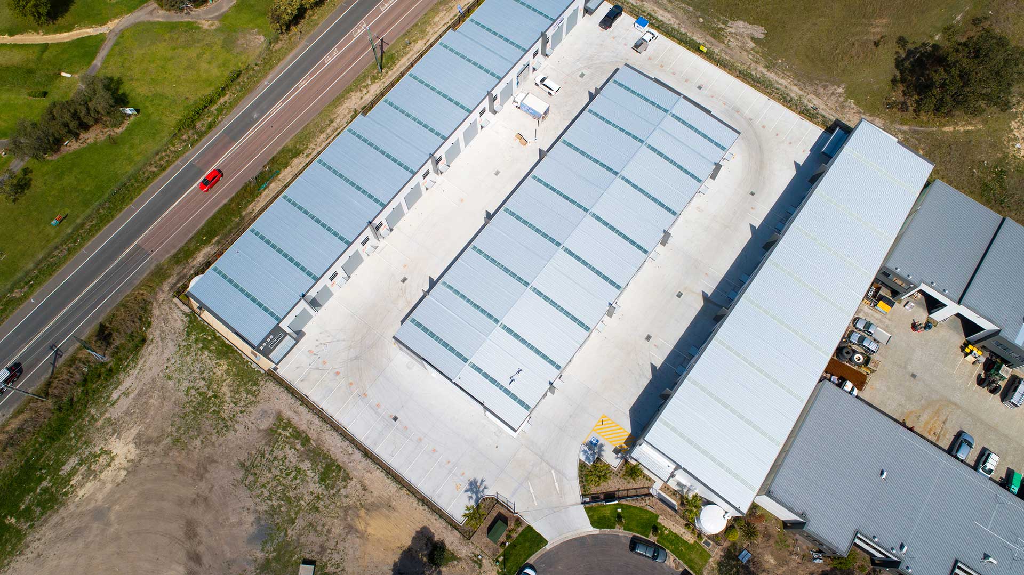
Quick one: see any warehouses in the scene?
Yes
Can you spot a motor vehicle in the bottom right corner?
Yes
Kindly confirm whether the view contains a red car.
Yes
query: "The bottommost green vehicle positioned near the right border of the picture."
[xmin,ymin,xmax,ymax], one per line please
[999,468,1024,491]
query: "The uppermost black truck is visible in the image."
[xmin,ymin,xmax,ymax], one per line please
[597,6,620,30]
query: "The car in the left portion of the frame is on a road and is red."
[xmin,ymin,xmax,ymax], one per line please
[199,169,226,191]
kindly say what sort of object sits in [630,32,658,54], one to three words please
truck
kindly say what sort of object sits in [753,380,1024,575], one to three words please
building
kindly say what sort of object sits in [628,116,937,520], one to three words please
warehouse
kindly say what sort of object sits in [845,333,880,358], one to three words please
car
